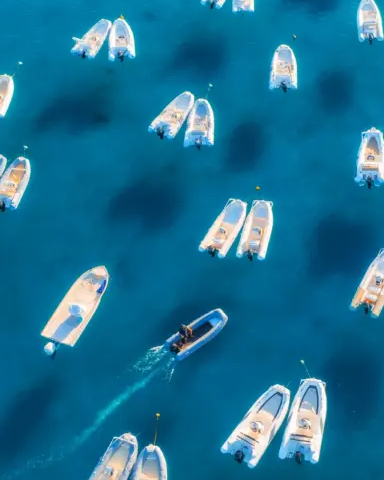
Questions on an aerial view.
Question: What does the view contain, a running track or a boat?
boat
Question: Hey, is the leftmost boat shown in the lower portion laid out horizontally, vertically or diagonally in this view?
diagonally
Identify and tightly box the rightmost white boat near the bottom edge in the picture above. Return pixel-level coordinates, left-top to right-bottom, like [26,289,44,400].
[280,378,326,466]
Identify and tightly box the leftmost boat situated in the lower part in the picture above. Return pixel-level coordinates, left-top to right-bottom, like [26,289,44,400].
[41,265,108,355]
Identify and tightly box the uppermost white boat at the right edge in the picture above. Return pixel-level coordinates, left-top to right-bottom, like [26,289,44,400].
[357,0,383,47]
